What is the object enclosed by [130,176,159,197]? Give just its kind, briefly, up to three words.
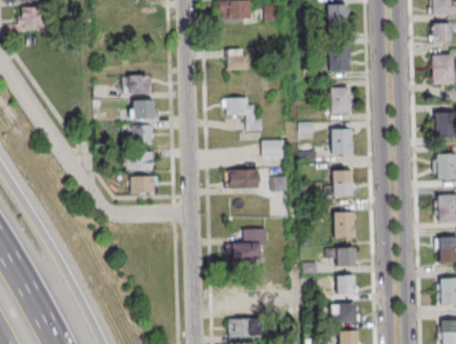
house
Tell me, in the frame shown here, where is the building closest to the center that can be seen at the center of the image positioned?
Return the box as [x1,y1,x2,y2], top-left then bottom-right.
[224,169,260,188]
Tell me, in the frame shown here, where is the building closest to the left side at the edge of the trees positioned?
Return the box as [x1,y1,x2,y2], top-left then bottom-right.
[14,6,46,34]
